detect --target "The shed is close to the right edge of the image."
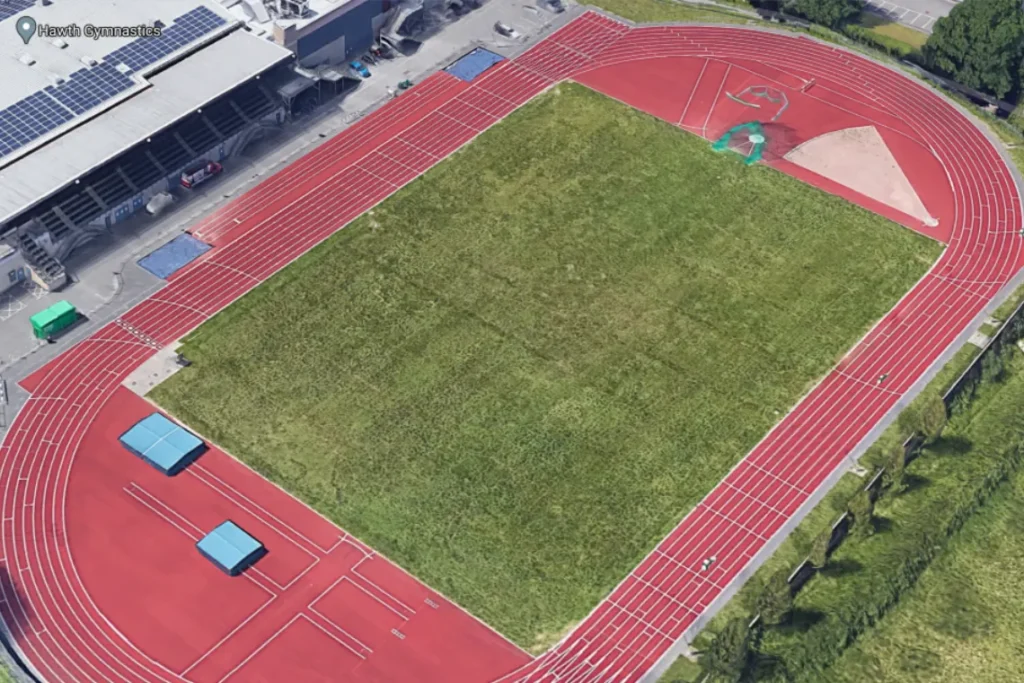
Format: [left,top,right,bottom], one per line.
[963,92,992,116]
